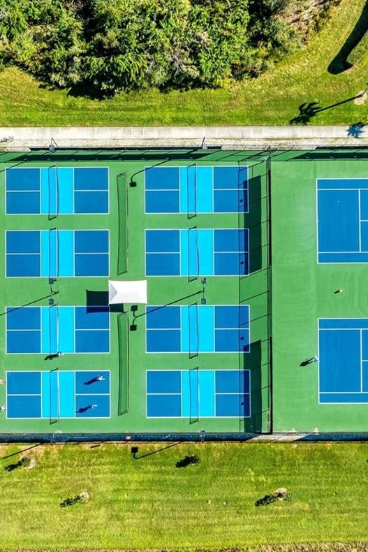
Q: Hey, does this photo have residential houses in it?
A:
No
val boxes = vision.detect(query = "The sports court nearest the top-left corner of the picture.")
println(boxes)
[5,167,109,214]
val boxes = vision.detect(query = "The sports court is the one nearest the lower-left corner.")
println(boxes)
[7,372,110,419]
